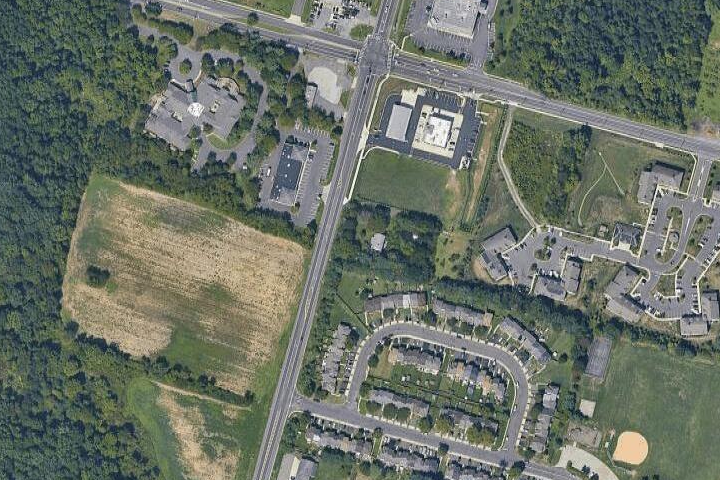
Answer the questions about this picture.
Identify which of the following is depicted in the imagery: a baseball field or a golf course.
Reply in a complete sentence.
The image shows a baseball field.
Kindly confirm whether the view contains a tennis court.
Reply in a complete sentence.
Yes, the photo shows a tennis court.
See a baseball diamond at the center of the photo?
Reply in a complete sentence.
No, no baseball diamond can be made out at the center of the photo.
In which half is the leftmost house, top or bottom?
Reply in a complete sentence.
The leftmost house sits in the top half of the picture.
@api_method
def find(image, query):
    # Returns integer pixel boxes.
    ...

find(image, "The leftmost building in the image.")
[143,73,249,152]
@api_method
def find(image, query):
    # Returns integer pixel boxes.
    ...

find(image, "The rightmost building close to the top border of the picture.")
[430,0,487,36]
